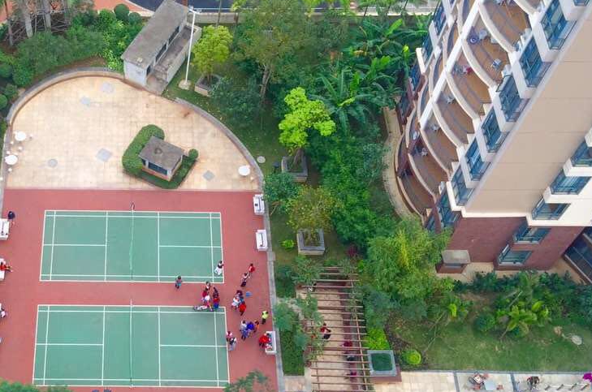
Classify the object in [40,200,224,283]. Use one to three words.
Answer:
sports court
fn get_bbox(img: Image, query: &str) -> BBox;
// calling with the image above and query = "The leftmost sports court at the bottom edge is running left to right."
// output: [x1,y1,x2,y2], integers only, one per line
[32,296,229,388]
